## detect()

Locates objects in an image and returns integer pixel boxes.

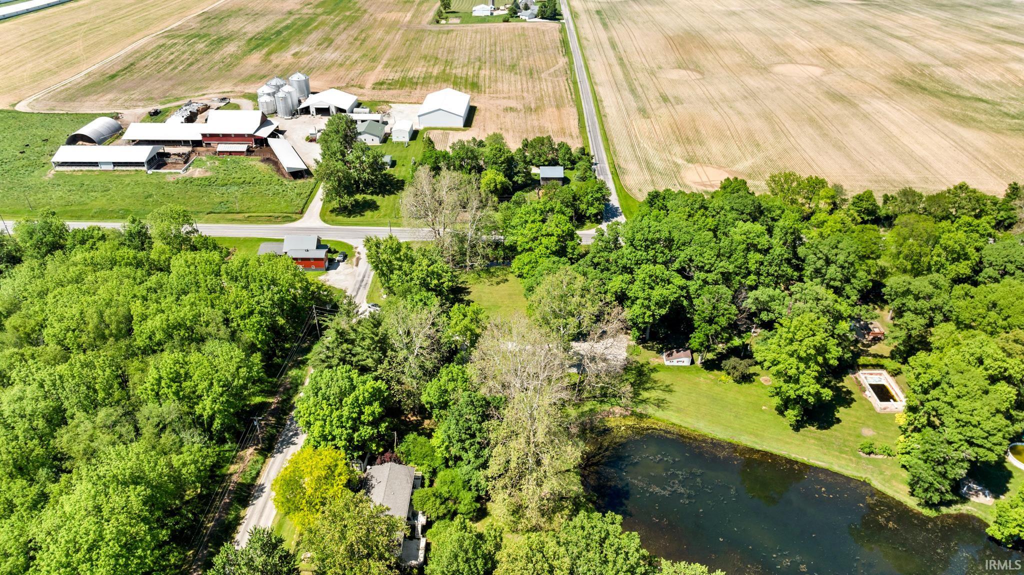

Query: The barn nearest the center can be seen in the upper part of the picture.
[540,166,564,185]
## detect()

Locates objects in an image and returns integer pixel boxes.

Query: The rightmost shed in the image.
[663,347,693,365]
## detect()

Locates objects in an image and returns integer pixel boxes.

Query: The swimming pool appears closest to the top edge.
[855,369,909,412]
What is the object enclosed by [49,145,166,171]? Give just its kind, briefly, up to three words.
shed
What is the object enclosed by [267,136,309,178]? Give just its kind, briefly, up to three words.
shed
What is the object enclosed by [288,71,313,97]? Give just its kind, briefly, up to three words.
silo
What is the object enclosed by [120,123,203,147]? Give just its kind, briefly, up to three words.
barn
